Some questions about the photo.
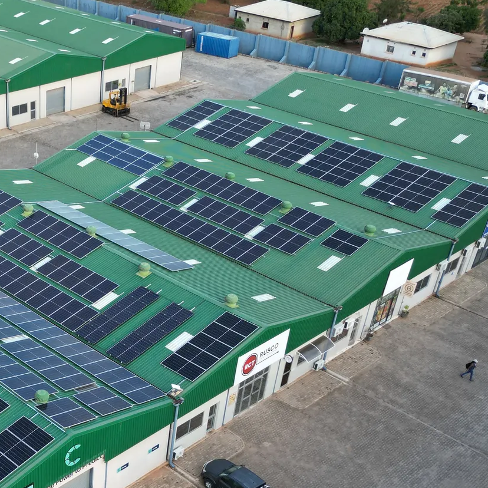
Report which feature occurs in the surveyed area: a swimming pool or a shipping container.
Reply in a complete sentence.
Looking from above, you can make out a shipping container.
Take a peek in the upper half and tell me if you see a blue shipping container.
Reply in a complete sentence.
Yes, in the upper half there is a blue shipping container.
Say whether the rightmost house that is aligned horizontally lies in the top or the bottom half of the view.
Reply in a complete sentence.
The rightmost house that is aligned horizontally is in the top half of the image.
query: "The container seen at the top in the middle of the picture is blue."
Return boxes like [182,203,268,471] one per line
[195,33,237,59]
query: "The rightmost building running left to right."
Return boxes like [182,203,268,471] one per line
[364,24,457,66]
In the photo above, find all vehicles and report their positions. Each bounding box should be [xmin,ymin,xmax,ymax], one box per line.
[199,456,273,488]
[102,87,138,120]
[393,65,488,114]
